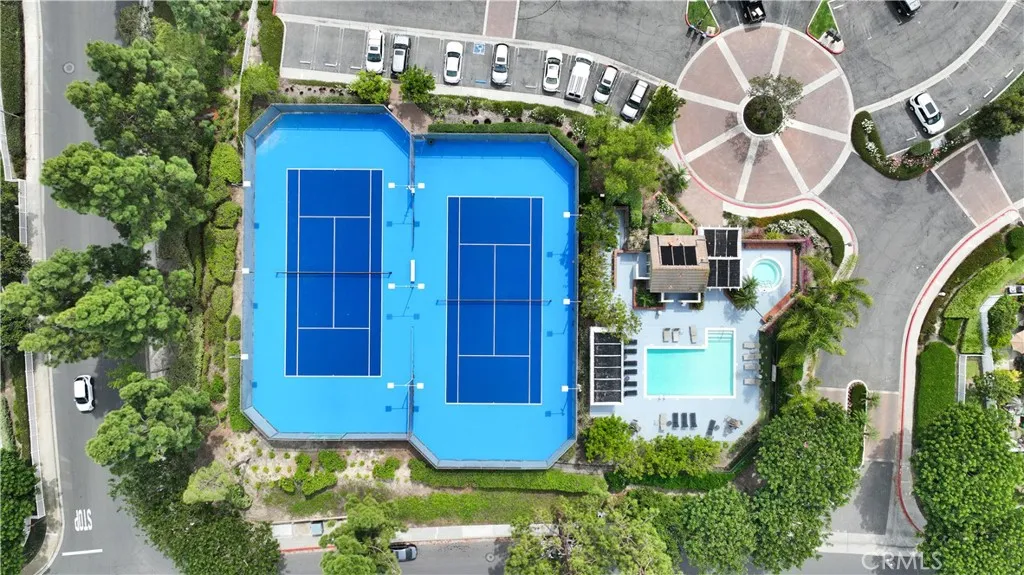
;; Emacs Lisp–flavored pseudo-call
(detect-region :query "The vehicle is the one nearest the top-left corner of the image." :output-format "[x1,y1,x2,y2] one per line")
[364,30,385,73]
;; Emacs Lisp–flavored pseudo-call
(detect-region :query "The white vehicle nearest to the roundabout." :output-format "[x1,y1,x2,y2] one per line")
[621,78,649,123]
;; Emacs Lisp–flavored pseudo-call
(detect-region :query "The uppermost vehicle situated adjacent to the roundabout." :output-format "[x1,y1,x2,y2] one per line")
[742,0,767,27]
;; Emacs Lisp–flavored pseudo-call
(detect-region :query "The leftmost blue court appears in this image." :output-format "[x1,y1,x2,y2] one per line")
[253,112,415,433]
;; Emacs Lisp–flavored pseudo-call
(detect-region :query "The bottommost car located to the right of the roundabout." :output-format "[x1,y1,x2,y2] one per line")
[909,91,942,135]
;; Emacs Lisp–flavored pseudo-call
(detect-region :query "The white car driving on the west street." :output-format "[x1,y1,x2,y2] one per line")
[74,374,97,412]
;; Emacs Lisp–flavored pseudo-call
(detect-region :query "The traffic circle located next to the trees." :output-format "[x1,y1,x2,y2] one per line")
[673,23,853,204]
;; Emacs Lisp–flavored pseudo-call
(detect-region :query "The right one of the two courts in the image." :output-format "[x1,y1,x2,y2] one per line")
[413,140,575,461]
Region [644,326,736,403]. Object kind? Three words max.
swimming pool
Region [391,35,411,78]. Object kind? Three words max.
car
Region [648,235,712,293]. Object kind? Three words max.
building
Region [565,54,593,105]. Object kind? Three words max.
van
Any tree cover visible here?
Yes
